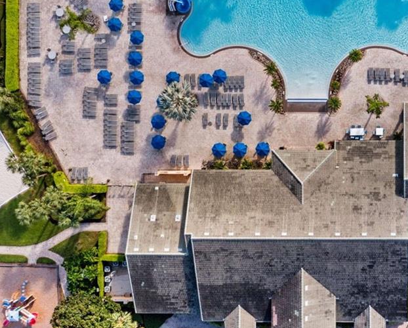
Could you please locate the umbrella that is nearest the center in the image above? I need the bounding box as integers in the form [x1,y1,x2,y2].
[212,142,227,157]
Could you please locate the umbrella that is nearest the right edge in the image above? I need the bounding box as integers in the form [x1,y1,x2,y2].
[256,141,271,157]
